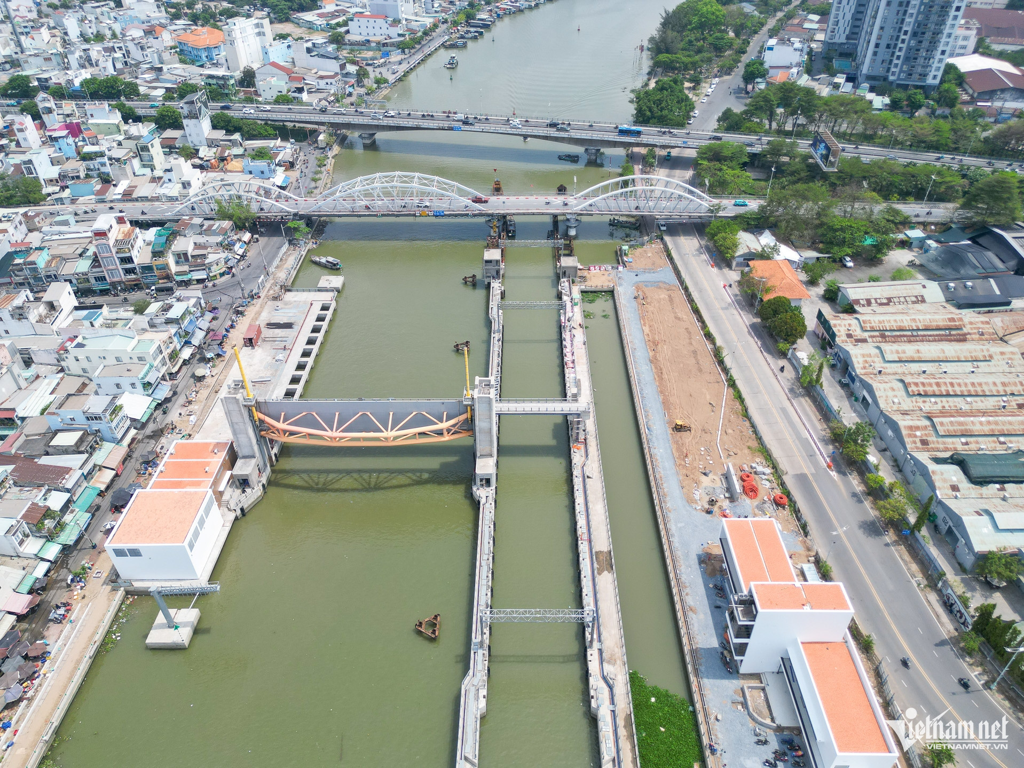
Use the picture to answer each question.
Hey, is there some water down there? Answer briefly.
Yes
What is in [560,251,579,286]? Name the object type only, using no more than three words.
building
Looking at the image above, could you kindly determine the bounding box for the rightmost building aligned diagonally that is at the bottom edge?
[707,520,897,768]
